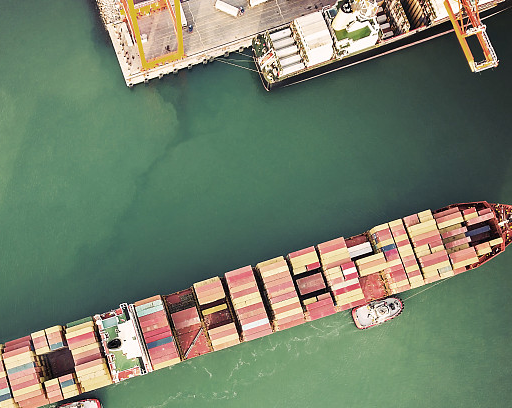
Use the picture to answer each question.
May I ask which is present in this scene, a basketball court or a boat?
boat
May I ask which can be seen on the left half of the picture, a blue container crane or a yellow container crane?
yellow container crane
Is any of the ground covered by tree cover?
No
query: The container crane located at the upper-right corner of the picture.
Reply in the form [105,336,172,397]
[442,0,501,74]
